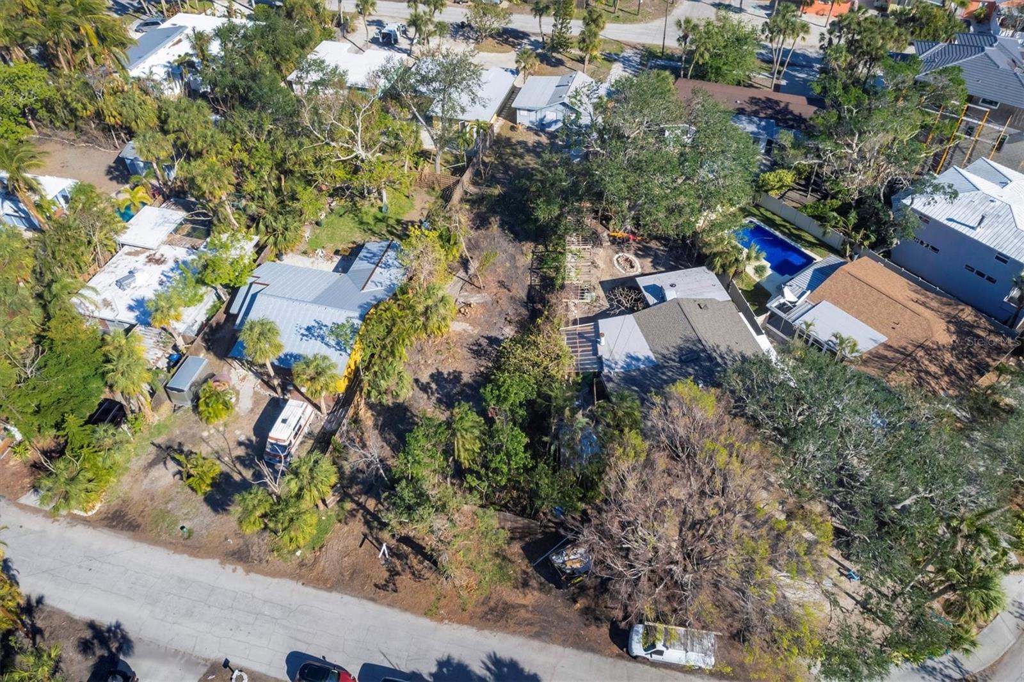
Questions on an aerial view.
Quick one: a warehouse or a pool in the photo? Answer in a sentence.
This aerial view contains a pool.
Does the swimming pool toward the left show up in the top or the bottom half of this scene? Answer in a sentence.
You can find the swimming pool toward the left in the top half.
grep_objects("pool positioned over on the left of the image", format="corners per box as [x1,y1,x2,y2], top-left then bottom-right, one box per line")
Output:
[115,191,143,221]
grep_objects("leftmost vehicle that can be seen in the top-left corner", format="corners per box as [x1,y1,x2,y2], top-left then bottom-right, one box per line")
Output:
[136,20,162,33]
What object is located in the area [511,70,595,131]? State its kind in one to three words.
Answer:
house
